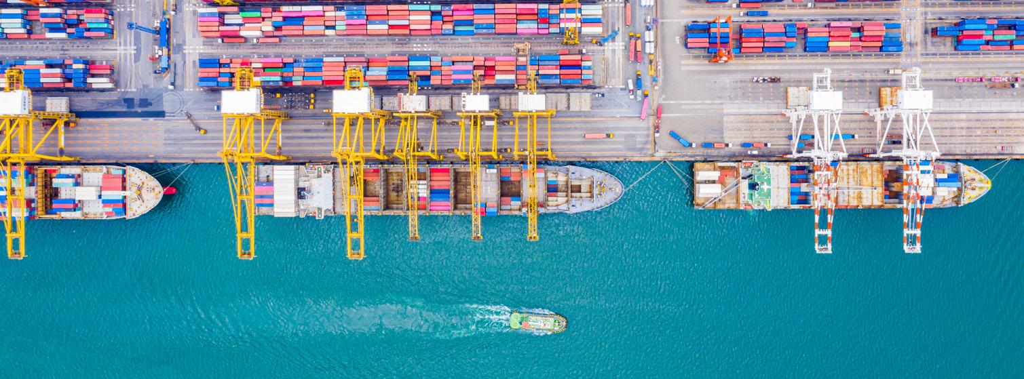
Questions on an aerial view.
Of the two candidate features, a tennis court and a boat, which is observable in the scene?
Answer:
boat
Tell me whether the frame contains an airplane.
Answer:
No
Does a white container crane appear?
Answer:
Yes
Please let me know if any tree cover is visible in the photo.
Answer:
No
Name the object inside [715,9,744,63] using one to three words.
container crane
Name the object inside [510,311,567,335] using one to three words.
boat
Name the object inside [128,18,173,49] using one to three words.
crane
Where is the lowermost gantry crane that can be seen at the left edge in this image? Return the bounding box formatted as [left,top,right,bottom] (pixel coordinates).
[0,65,80,259]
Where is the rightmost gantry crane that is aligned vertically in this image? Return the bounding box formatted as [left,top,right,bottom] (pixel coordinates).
[855,68,943,253]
